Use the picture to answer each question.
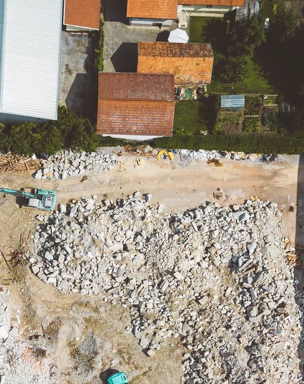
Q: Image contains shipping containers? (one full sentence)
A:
No, the photo shows no shipping container.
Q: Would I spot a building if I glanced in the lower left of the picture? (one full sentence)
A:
No, in the lower left of the picture there is no building.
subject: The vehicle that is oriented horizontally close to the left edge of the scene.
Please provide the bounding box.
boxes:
[0,185,62,211]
